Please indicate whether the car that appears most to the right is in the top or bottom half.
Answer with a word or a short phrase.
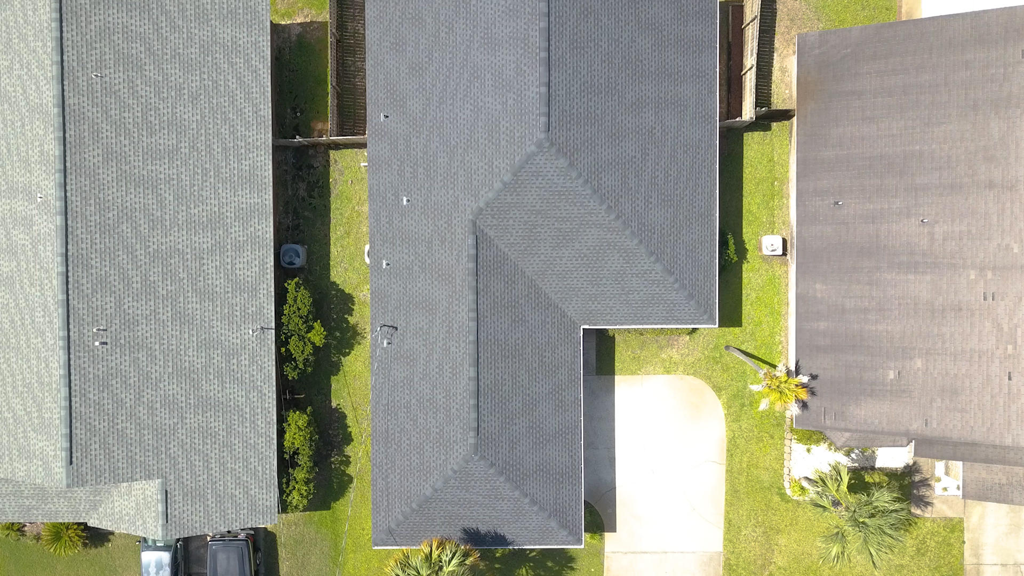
bottom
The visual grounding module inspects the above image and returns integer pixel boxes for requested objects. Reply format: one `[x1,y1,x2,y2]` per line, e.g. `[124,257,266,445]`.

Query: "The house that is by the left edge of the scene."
[0,0,281,539]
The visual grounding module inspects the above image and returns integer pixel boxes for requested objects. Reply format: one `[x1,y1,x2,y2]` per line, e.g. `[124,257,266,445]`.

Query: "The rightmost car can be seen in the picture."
[208,525,266,576]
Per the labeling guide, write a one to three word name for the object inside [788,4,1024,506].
house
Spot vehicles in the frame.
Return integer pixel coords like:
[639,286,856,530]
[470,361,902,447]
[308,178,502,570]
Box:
[133,533,189,576]
[208,525,266,576]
